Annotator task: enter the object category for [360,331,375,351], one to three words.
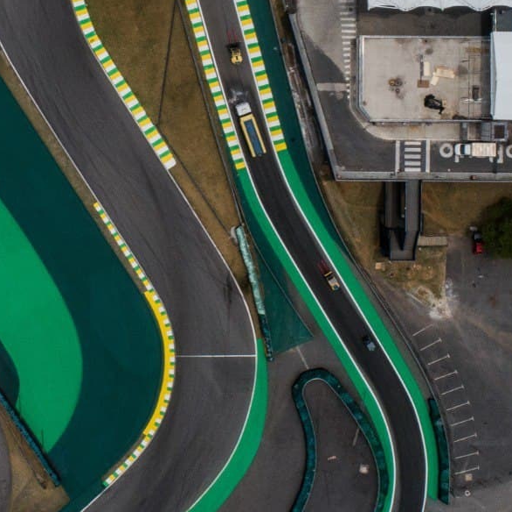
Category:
work vehicle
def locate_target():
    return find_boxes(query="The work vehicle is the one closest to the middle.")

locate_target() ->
[315,257,338,288]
